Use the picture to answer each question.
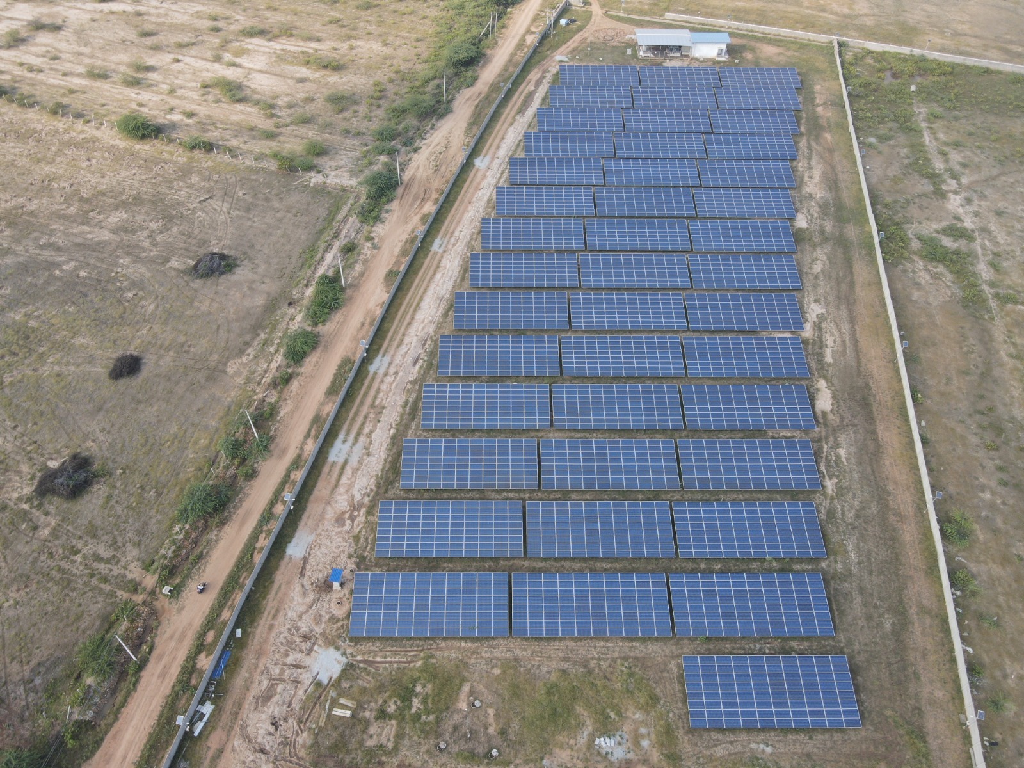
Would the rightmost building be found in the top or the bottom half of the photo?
top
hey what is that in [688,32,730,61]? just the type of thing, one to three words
building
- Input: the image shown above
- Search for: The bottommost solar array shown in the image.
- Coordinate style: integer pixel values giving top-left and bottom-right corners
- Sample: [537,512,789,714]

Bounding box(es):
[682,655,861,728]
